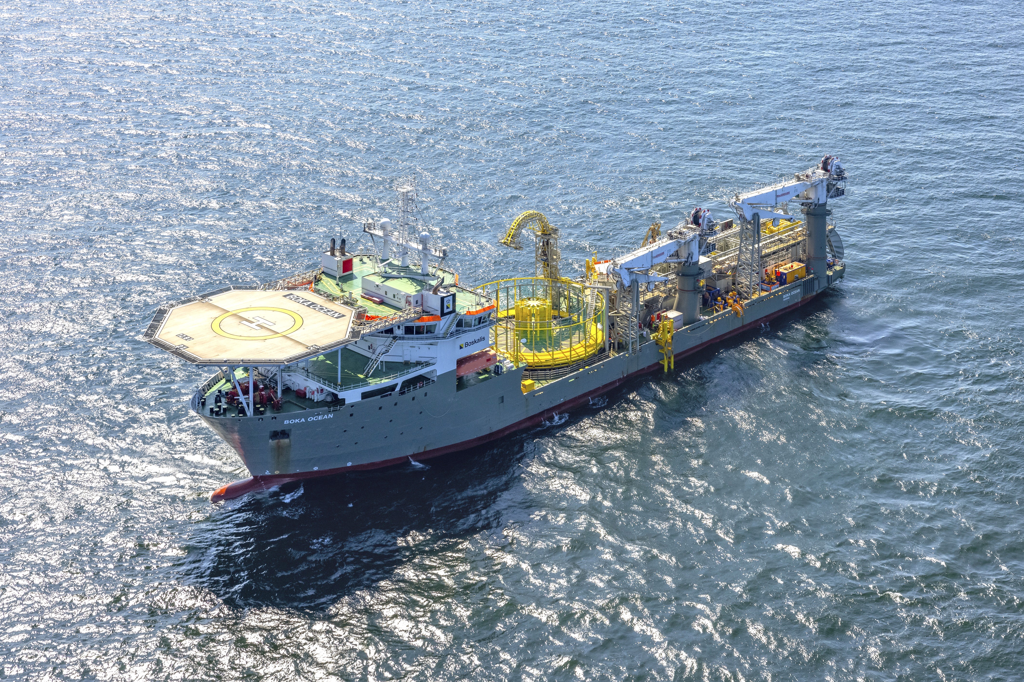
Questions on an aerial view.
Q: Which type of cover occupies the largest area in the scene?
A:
water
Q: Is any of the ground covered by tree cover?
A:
No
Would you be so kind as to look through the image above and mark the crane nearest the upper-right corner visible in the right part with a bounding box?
[722,152,854,270]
